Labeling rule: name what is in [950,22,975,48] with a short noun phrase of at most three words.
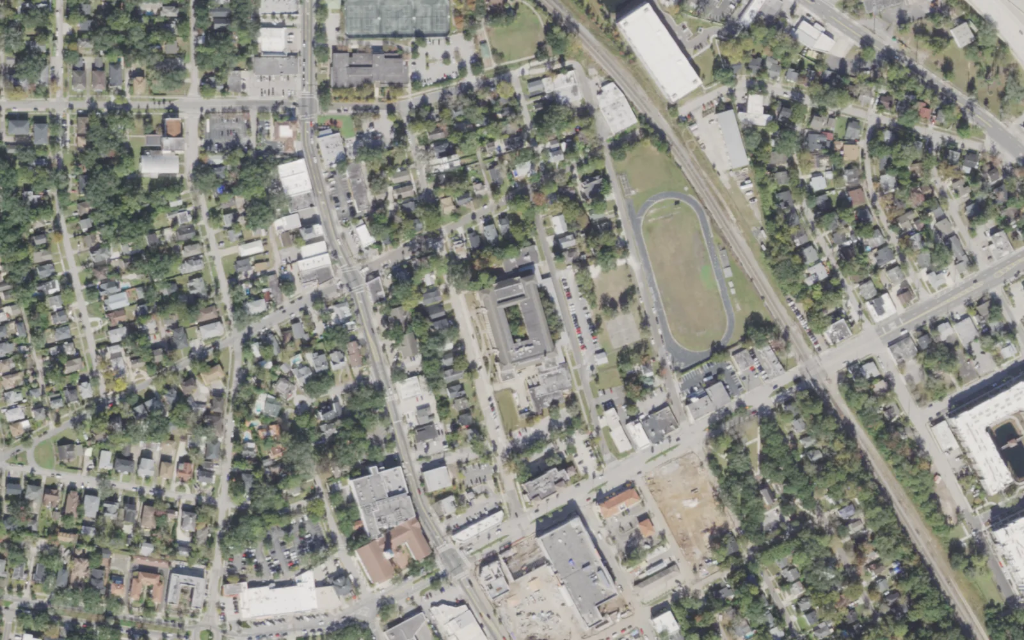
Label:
building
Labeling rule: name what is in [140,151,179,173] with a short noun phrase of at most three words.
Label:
building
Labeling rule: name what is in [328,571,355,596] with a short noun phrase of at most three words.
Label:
house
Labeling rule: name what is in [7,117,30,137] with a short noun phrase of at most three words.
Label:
house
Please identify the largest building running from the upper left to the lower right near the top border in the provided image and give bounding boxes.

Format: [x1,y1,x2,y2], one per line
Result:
[617,2,703,102]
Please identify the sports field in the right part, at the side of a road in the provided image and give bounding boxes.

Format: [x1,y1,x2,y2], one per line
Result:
[642,199,727,351]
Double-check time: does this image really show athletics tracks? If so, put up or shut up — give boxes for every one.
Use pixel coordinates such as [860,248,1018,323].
[627,191,735,370]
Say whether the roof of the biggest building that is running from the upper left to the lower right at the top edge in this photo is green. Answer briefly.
No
